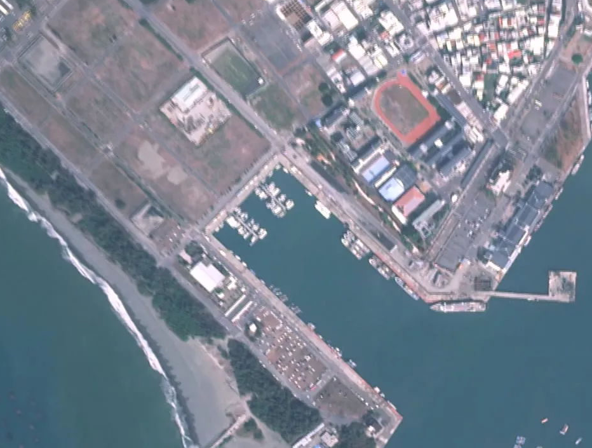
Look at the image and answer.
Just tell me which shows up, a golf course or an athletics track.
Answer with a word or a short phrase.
athletics track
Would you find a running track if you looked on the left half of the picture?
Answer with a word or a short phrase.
No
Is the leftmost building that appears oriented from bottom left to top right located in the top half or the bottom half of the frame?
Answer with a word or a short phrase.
top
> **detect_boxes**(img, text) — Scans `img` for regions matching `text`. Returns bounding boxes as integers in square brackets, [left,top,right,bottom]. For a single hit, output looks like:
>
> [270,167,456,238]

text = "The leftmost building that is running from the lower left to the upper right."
[176,77,208,102]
